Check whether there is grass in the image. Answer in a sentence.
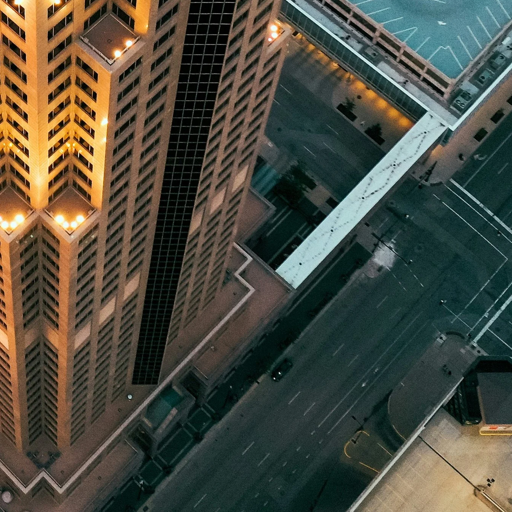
No, the scene doesn't show any grass.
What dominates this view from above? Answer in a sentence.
For the most part, this view shows buildings.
